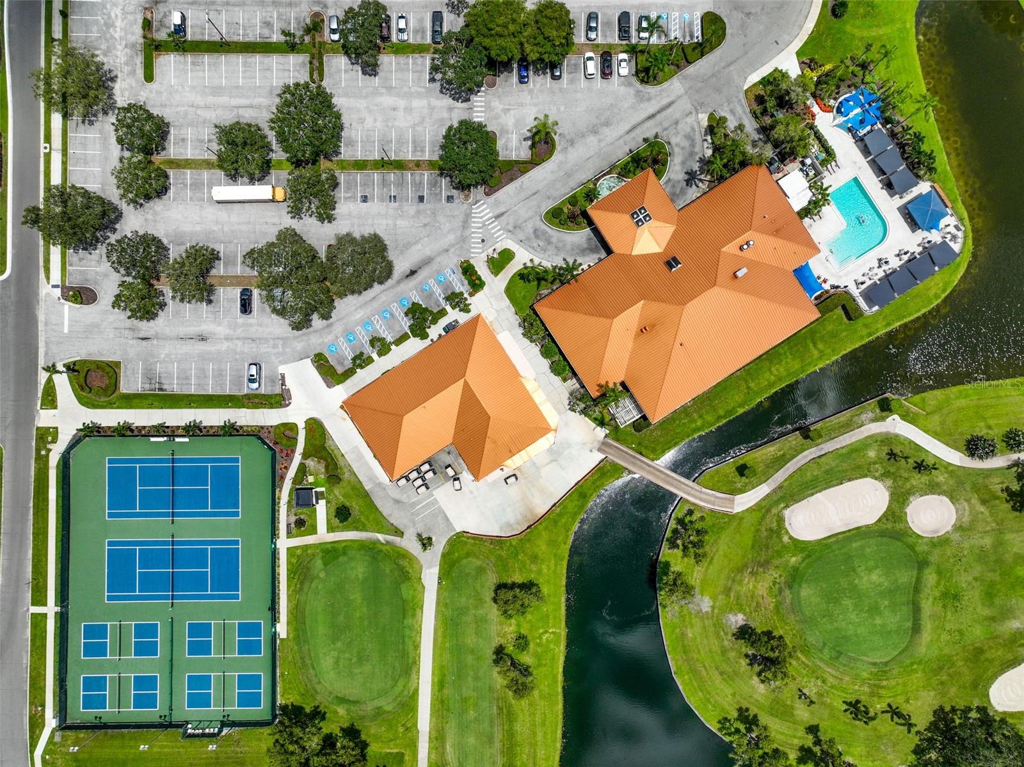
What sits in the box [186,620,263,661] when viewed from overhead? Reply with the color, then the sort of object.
blue sports court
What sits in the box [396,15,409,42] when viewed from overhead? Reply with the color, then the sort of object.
white vehicle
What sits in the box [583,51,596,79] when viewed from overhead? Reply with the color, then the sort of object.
white vehicle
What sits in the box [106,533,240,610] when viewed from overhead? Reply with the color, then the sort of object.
blue tennis court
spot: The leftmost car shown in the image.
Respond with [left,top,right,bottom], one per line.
[173,13,187,37]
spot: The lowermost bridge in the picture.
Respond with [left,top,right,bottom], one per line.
[598,437,735,514]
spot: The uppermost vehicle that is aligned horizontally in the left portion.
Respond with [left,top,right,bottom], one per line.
[209,184,284,204]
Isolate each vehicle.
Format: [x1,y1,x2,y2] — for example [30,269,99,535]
[327,14,341,43]
[618,11,631,41]
[407,467,421,479]
[239,288,253,315]
[247,363,261,389]
[517,58,530,86]
[550,56,563,84]
[420,460,433,473]
[600,51,613,79]
[638,14,649,42]
[453,477,462,490]
[586,12,599,41]
[412,474,427,487]
[384,14,392,43]
[209,184,284,204]
[396,15,409,42]
[424,467,438,480]
[396,475,411,487]
[417,482,431,495]
[583,51,596,79]
[616,51,629,79]
[431,10,444,45]
[444,462,457,476]
[173,13,187,37]
[505,473,519,485]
